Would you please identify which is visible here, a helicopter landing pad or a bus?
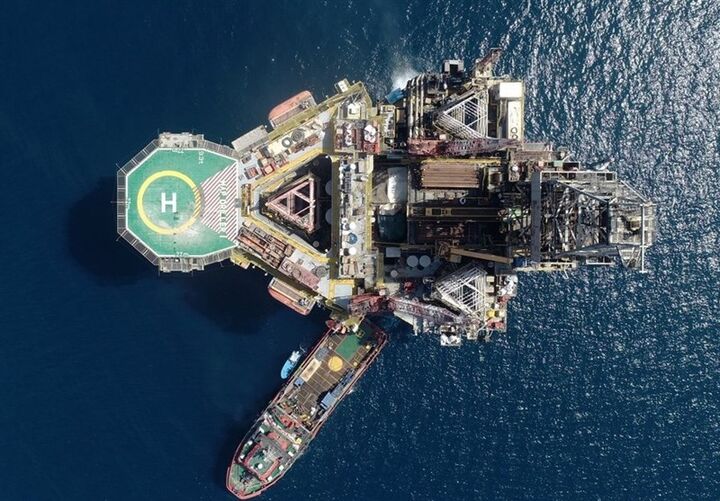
helicopter landing pad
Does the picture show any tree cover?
No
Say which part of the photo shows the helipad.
left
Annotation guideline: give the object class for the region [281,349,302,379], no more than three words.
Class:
boat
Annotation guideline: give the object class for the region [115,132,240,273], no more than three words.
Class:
helipad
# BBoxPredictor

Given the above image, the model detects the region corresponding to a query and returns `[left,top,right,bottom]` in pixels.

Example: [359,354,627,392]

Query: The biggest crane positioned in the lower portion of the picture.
[365,287,469,323]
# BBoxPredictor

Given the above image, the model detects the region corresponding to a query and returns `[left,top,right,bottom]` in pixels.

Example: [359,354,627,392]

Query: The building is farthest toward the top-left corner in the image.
[231,124,271,157]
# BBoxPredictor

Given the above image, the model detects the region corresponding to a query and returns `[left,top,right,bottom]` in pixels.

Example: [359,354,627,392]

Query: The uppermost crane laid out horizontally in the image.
[391,134,520,165]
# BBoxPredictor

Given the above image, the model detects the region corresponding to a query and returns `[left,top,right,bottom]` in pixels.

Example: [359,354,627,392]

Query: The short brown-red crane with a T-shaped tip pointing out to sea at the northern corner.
[470,47,503,83]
